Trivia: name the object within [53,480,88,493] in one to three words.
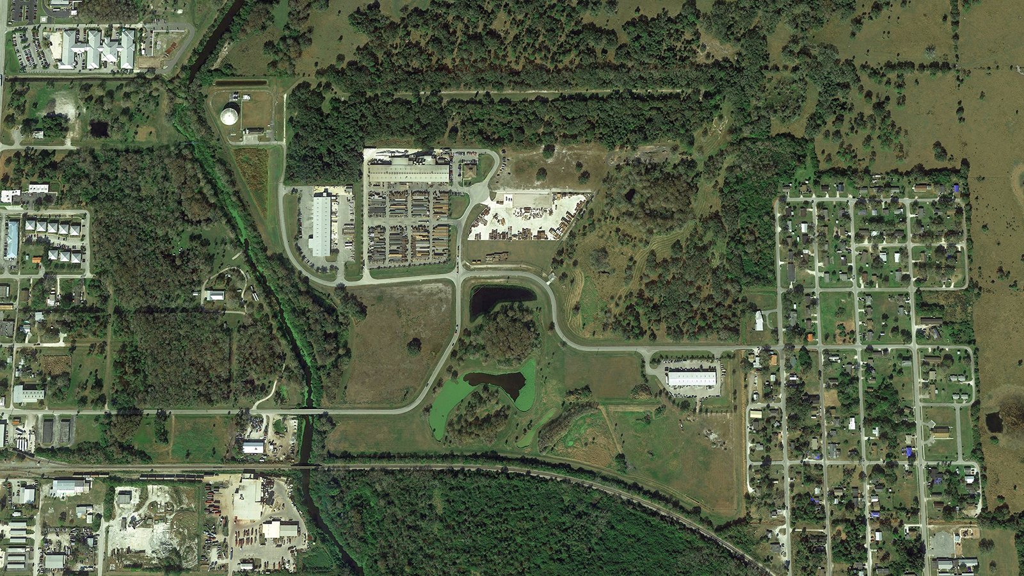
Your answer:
building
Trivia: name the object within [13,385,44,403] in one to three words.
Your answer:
building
